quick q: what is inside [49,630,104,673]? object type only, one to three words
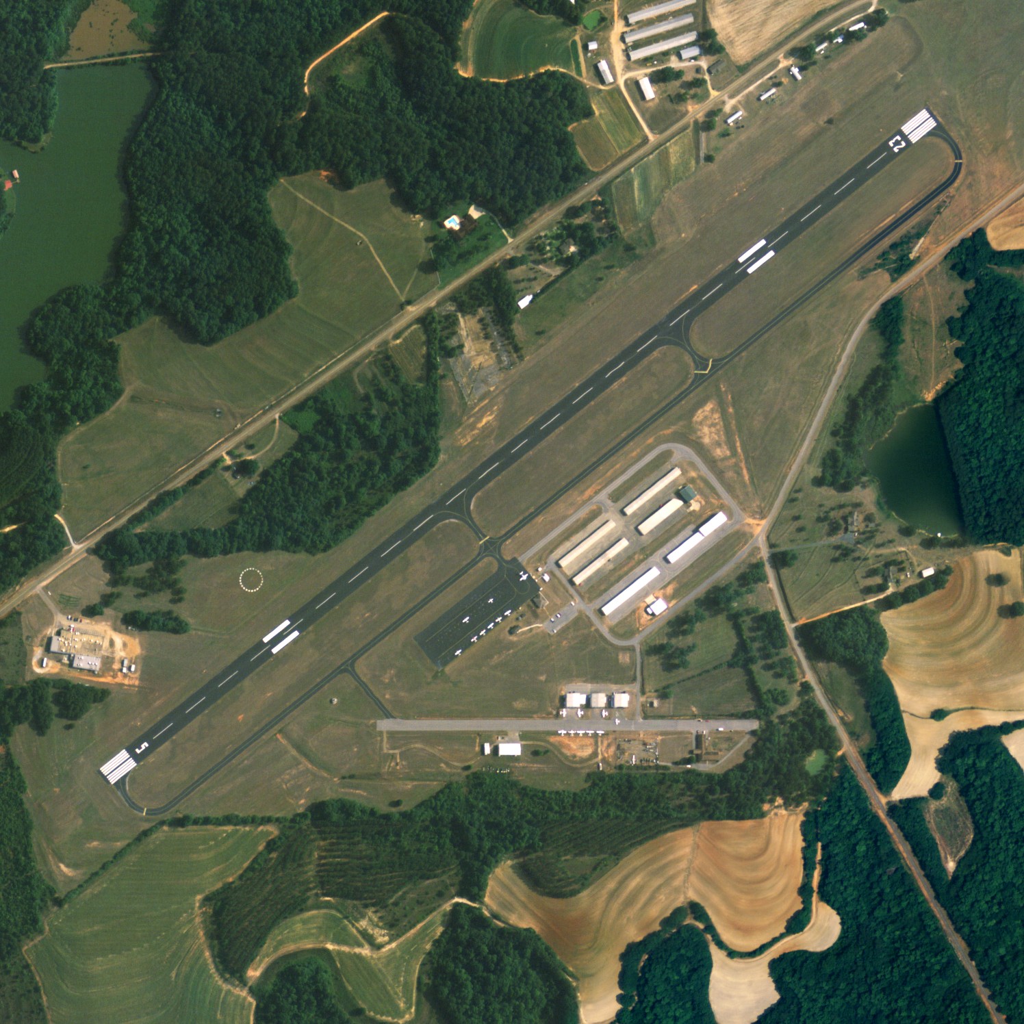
building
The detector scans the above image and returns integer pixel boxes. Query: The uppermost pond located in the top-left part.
[61,0,151,59]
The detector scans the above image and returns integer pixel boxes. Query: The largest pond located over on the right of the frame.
[862,400,972,536]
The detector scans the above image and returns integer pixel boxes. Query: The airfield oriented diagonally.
[97,107,963,816]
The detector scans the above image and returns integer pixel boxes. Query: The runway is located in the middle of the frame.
[97,107,940,787]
